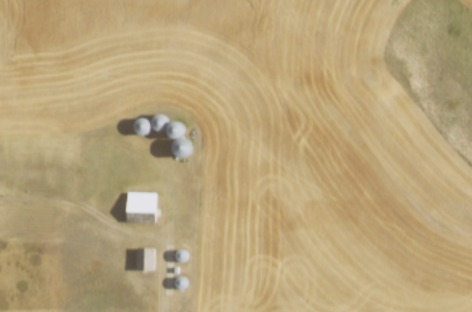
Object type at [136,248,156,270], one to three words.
shed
